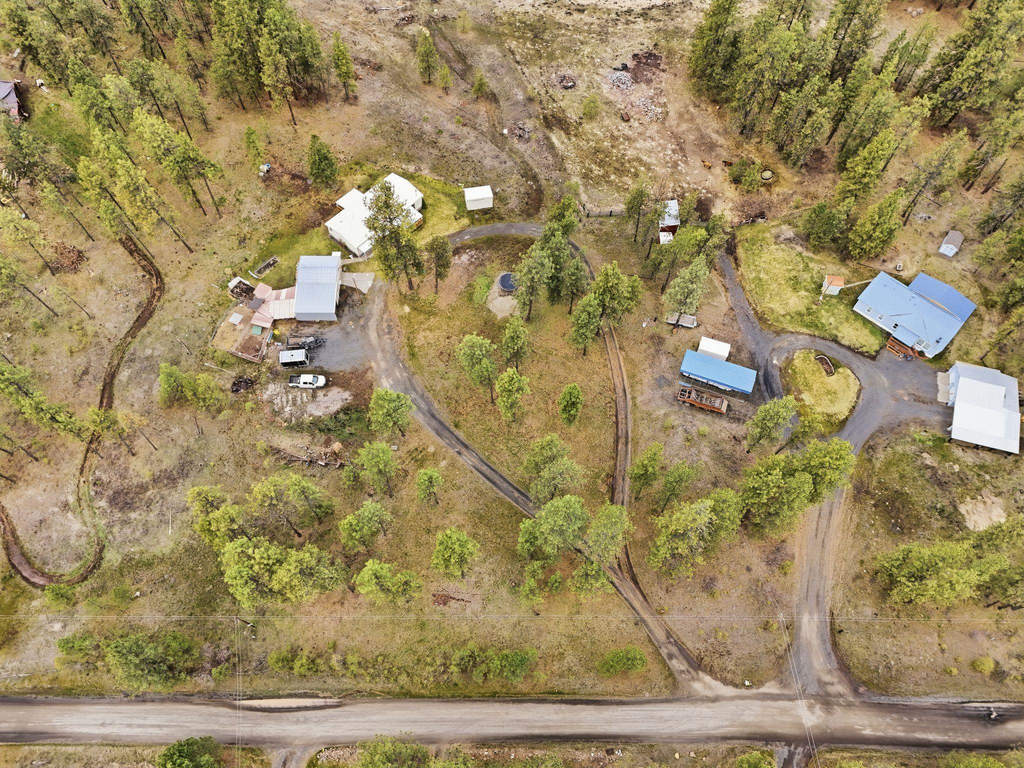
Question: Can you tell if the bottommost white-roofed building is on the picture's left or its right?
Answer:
right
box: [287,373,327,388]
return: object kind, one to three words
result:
vehicle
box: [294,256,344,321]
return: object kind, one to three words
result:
building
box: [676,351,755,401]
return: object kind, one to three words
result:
shed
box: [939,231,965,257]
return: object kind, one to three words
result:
shed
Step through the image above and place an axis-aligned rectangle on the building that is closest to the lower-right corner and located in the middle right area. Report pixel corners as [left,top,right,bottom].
[942,361,1023,462]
